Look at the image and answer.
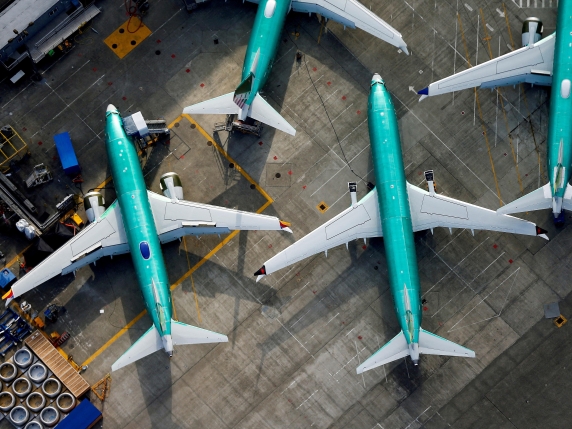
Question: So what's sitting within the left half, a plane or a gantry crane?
plane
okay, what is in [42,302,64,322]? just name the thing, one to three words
work vehicle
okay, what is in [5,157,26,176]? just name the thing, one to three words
work vehicle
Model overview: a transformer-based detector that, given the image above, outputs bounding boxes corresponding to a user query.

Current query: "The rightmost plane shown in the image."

[419,0,572,230]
